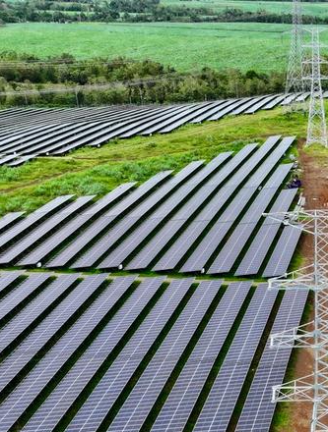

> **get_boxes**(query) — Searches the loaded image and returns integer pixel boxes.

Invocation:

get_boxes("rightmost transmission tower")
[300,19,328,146]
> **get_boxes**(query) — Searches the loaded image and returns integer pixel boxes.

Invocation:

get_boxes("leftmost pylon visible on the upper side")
[280,0,305,97]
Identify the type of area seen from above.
solar farm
